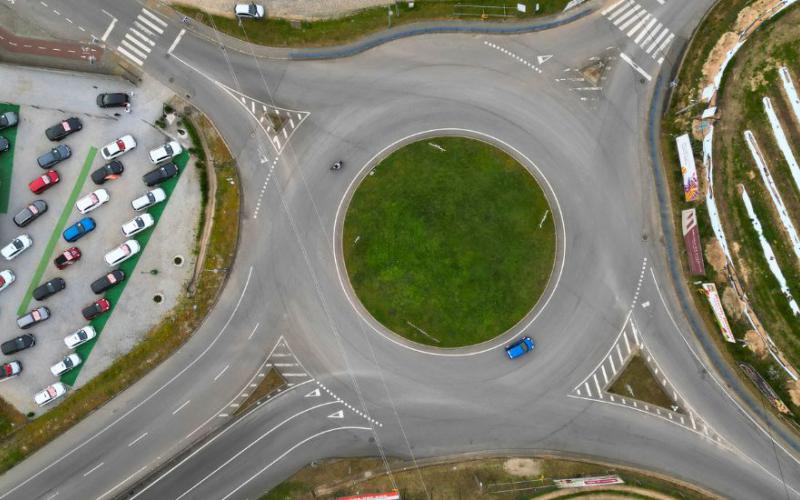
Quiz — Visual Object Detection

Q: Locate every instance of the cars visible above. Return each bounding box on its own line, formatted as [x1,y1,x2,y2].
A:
[73,189,110,214]
[79,298,112,322]
[147,141,184,164]
[29,277,67,302]
[121,213,155,237]
[505,337,534,359]
[35,144,73,170]
[234,2,266,20]
[45,119,83,141]
[0,234,33,259]
[132,188,166,211]
[62,326,96,351]
[52,248,84,270]
[0,270,16,291]
[0,334,38,356]
[0,109,21,129]
[90,161,124,184]
[0,362,23,381]
[10,200,48,225]
[27,170,61,194]
[103,240,140,266]
[48,353,83,378]
[30,382,68,409]
[59,217,97,242]
[100,135,138,159]
[88,270,126,295]
[16,306,51,329]
[141,162,179,188]
[95,91,131,109]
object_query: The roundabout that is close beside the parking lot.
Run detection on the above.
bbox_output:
[257,50,641,434]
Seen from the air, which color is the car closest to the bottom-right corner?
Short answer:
blue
